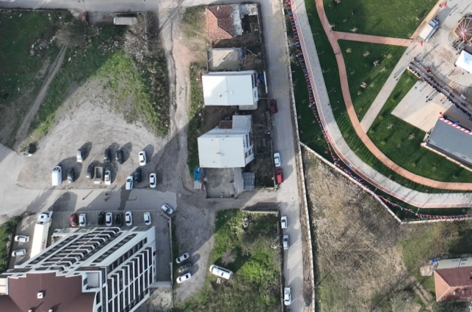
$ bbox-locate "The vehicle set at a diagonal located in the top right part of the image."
[421,22,437,41]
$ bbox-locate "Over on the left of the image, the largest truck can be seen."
[24,211,48,262]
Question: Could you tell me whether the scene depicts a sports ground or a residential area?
residential area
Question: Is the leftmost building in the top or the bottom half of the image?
bottom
